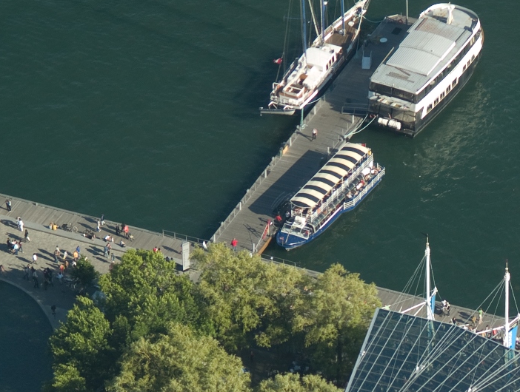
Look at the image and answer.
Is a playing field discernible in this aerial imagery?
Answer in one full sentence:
No, no playing field is visible in the view.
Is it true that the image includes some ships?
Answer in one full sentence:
Yes, there's a ship here.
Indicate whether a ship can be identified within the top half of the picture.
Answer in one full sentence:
Yes, within the top half of the picture there is a ship.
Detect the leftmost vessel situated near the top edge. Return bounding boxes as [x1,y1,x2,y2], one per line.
[264,0,370,118]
